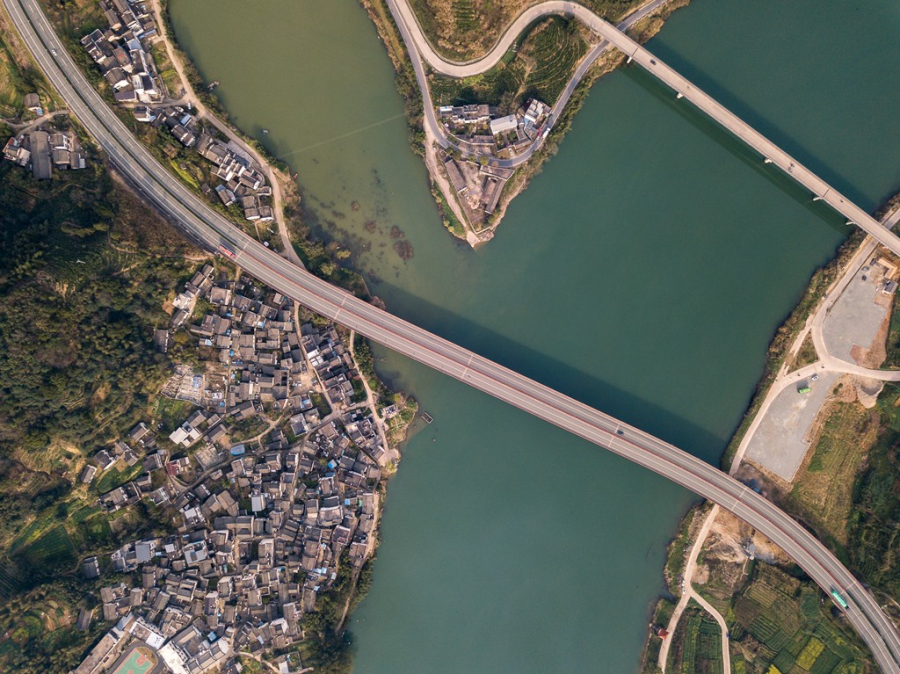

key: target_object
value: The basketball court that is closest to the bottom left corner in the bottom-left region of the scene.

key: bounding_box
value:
[112,646,156,674]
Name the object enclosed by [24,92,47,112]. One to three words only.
house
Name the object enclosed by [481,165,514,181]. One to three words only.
house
